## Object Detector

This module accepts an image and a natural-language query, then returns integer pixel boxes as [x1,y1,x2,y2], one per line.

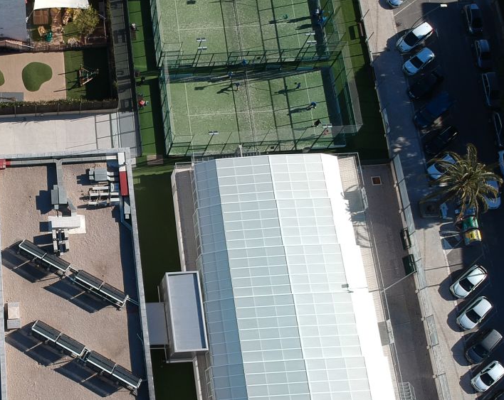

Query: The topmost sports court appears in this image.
[150,0,348,69]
